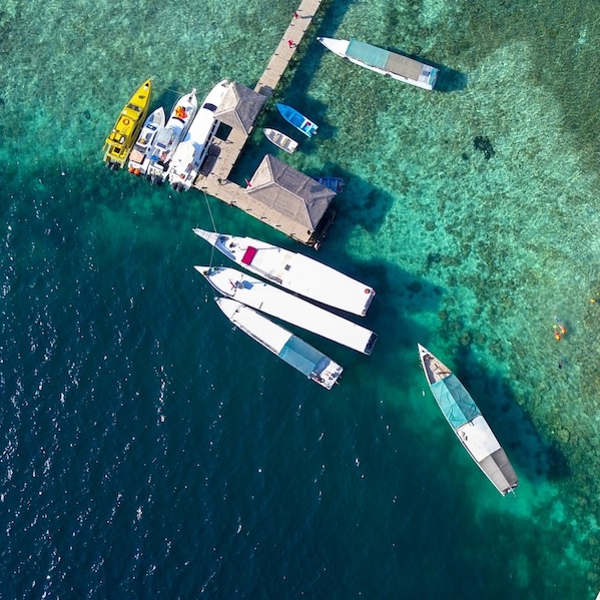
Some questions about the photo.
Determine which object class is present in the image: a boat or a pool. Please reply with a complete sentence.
Looking from above, you can make out a boat.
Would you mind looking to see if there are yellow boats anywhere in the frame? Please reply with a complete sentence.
Yes, looking at the shot, I can spot a yellow boat.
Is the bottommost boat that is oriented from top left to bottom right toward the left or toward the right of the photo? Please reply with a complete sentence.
You can find the bottommost boat that is oriented from top left to bottom right on the right side of the picture.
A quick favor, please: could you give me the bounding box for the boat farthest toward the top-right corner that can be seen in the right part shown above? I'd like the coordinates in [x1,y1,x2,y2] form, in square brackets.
[319,37,439,92]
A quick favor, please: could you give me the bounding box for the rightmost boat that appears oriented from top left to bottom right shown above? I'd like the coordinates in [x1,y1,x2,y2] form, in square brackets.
[418,344,517,496]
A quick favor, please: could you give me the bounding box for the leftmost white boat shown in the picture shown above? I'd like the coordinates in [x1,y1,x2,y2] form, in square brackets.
[128,107,164,175]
